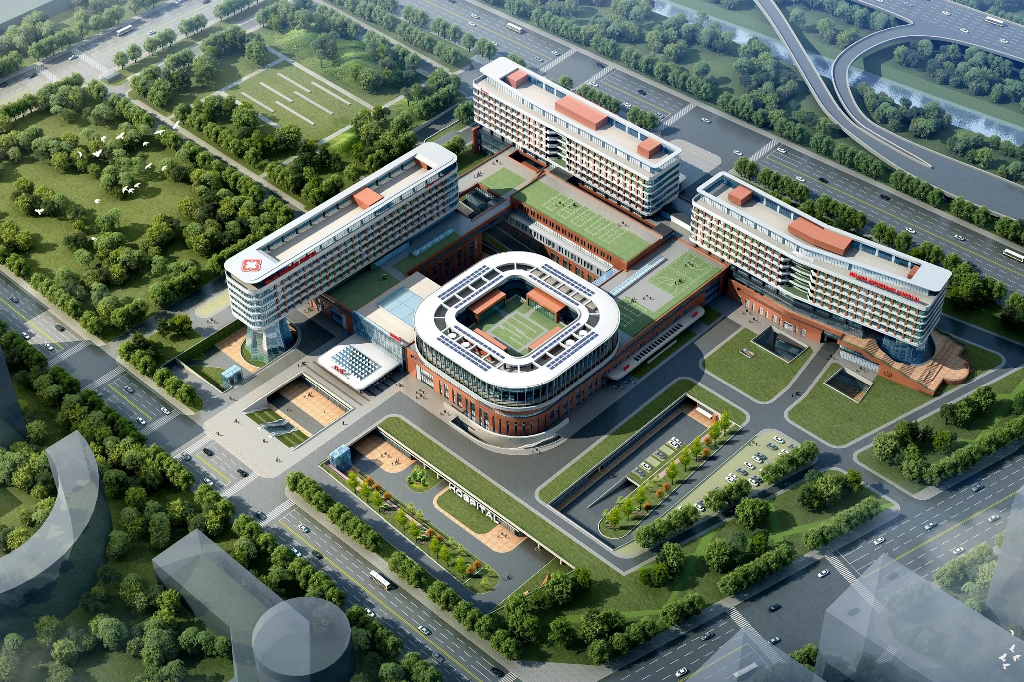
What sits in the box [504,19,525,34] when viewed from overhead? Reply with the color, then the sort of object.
white vehicle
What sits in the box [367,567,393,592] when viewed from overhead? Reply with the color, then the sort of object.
white bus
